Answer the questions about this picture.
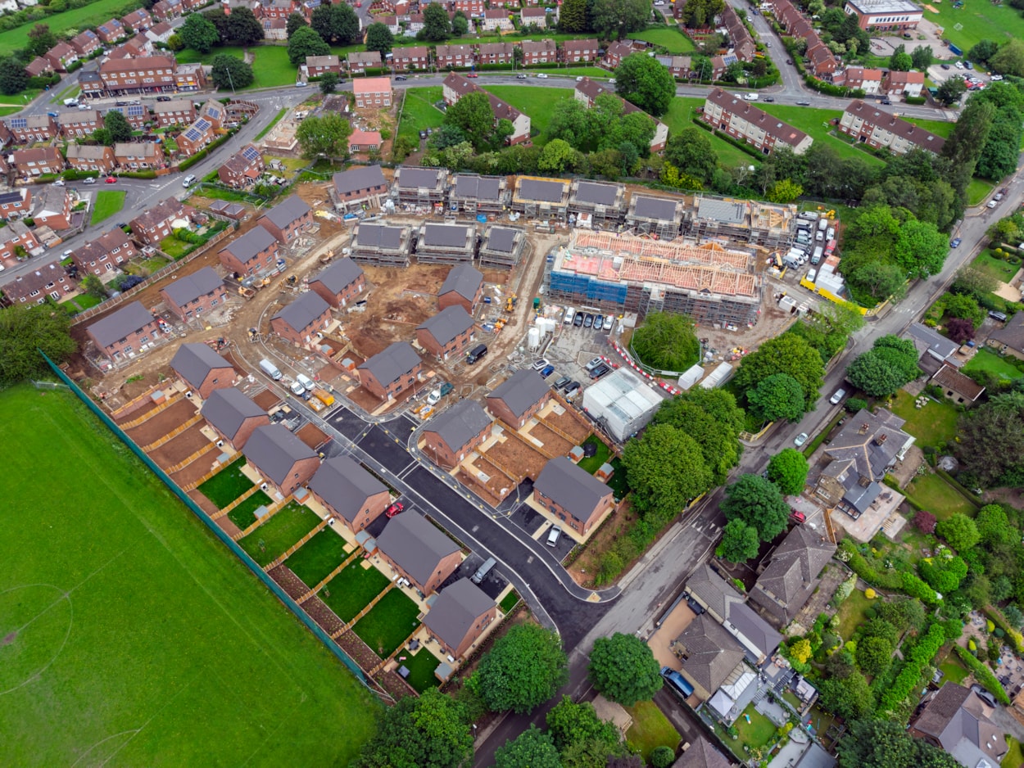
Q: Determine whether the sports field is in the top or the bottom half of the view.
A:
bottom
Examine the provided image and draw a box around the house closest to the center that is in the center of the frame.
[486,367,551,434]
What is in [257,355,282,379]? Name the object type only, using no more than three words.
vehicle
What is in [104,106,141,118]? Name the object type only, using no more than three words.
solar panel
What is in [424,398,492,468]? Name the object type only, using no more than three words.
house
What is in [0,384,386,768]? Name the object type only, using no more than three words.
sports field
